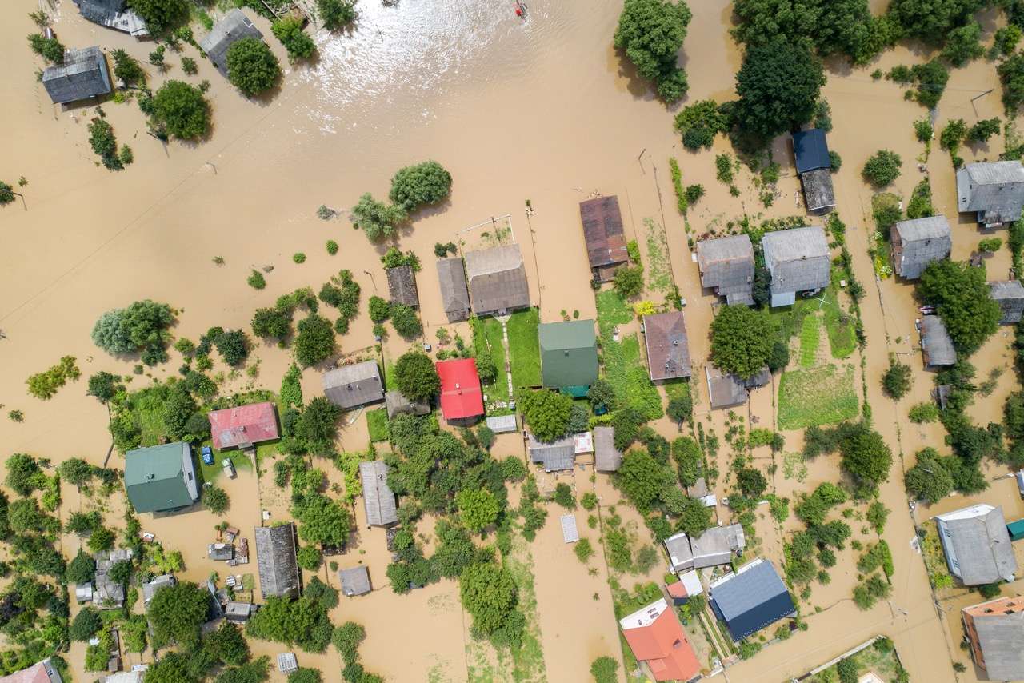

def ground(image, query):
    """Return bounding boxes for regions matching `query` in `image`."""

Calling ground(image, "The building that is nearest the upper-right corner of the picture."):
[958,160,1024,224]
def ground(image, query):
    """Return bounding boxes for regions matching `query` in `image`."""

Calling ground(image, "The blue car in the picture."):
[202,446,214,465]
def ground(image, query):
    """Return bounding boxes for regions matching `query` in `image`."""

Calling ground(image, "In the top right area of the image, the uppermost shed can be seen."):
[790,128,831,172]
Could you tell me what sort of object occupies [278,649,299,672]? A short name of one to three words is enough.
greenhouse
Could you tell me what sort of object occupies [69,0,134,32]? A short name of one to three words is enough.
barn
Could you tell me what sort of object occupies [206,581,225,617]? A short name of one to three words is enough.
shed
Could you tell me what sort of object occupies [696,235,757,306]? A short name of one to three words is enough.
house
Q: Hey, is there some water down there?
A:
Yes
